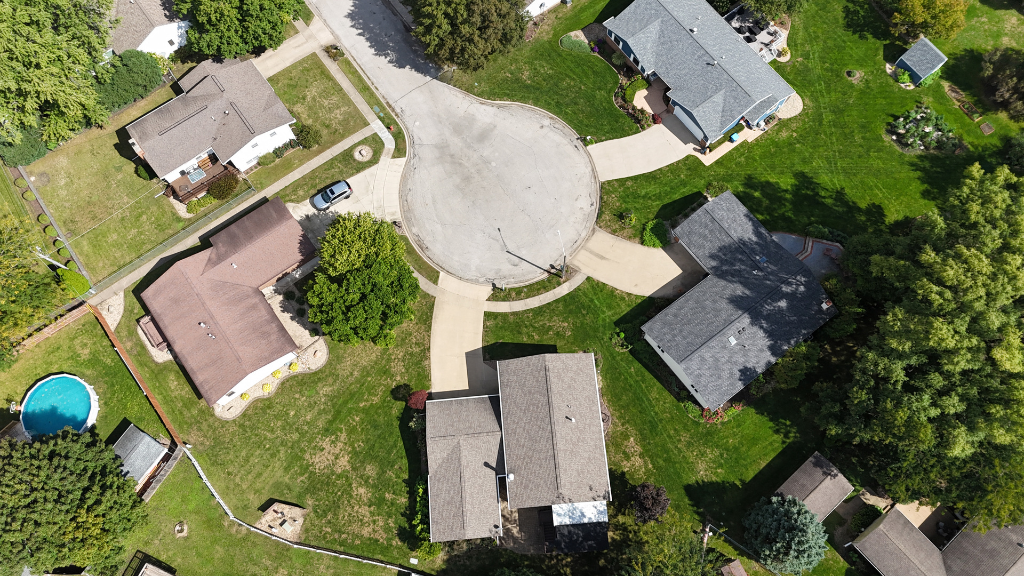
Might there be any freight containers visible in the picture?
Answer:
No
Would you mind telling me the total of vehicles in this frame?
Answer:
one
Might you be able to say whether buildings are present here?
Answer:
Yes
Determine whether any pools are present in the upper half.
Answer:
No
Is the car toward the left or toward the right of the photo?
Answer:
left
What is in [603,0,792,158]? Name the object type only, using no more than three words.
house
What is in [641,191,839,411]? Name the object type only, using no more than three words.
house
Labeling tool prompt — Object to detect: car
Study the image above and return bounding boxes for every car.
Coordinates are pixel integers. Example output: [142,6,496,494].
[314,182,354,211]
